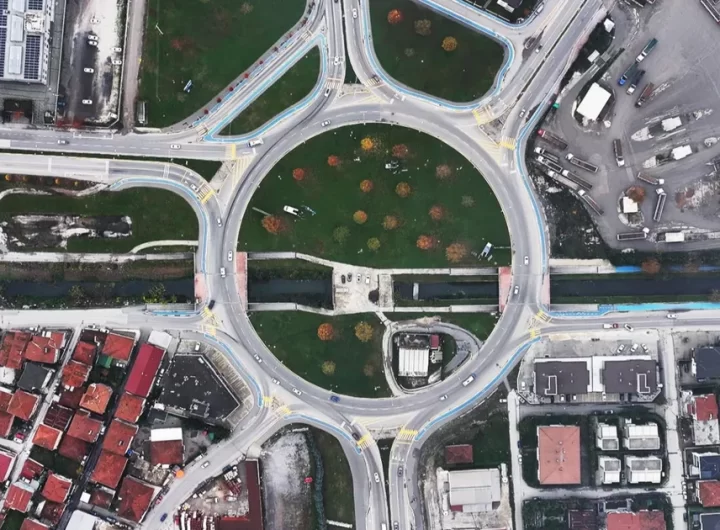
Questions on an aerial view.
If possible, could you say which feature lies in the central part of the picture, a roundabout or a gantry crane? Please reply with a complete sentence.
The one visible in the central part of the picture is a roundabout.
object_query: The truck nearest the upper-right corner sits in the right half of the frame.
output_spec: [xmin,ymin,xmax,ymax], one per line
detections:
[635,35,662,63]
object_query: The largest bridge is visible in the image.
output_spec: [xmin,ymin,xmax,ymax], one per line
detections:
[333,263,396,315]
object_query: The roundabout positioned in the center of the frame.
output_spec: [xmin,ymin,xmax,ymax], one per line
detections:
[207,93,541,429]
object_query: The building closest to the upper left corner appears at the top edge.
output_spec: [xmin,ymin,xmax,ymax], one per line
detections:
[0,0,53,84]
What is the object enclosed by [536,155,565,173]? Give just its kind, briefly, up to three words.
vehicle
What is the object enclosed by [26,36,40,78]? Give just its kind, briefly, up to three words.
solar array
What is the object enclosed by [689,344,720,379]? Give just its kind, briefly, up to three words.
house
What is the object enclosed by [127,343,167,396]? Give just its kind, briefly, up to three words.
building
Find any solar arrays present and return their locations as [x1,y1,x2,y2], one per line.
[26,36,40,78]
[0,0,8,25]
[29,0,42,10]
[0,28,6,77]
